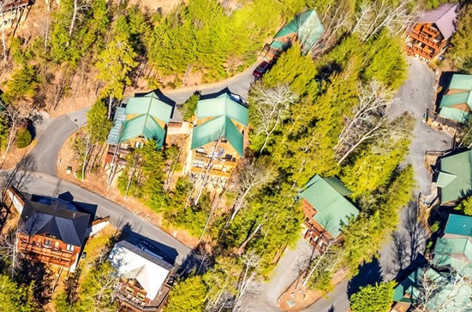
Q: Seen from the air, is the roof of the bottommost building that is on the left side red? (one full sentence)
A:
No, the color of the roof of the bottommost building that is on the left side is white.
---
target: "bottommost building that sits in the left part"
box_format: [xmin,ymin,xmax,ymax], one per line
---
[102,241,175,312]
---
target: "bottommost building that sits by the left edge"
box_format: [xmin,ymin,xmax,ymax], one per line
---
[19,196,90,271]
